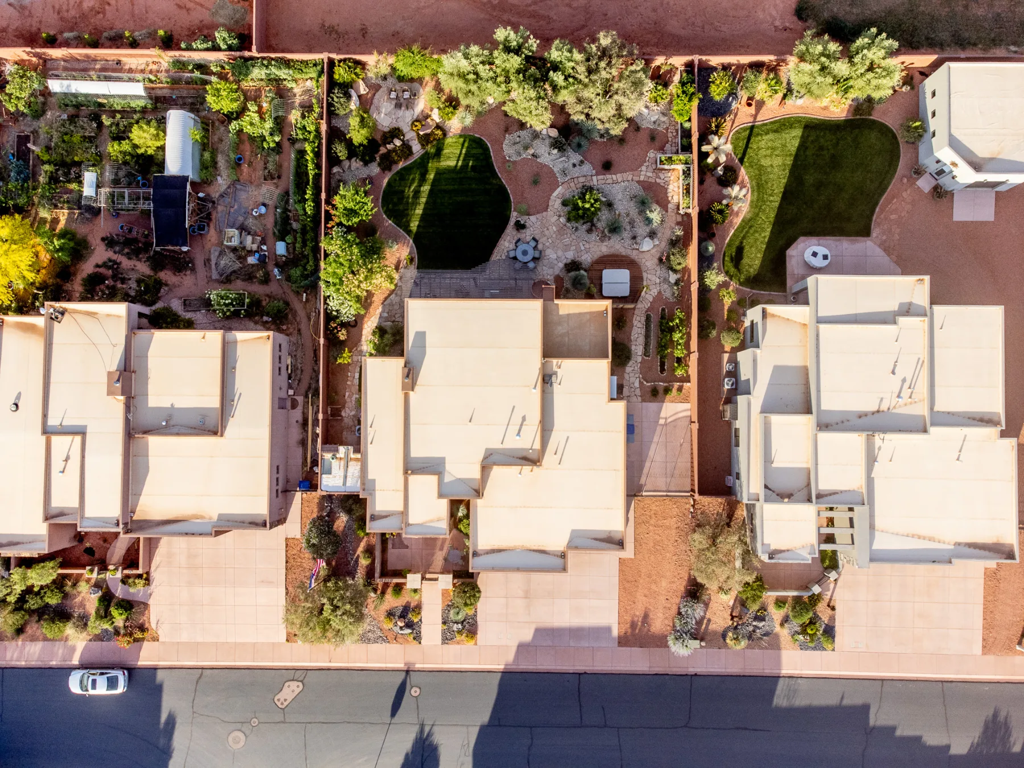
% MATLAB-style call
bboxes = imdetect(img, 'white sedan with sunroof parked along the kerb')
[68,669,129,699]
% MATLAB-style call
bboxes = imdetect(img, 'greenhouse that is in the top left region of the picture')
[172,111,208,187]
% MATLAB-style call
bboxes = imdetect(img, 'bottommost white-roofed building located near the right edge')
[733,276,1017,568]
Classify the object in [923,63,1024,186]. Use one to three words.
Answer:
shed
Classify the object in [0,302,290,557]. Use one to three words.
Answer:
house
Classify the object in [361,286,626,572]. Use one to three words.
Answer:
house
